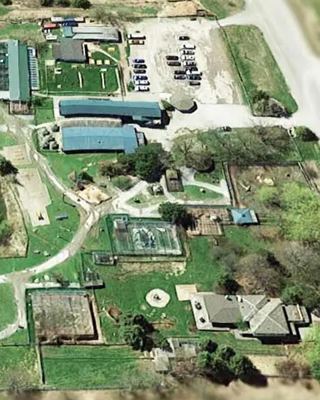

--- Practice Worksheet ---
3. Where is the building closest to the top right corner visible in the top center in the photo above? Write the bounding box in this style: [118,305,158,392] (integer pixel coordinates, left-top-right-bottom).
[169,90,194,112]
